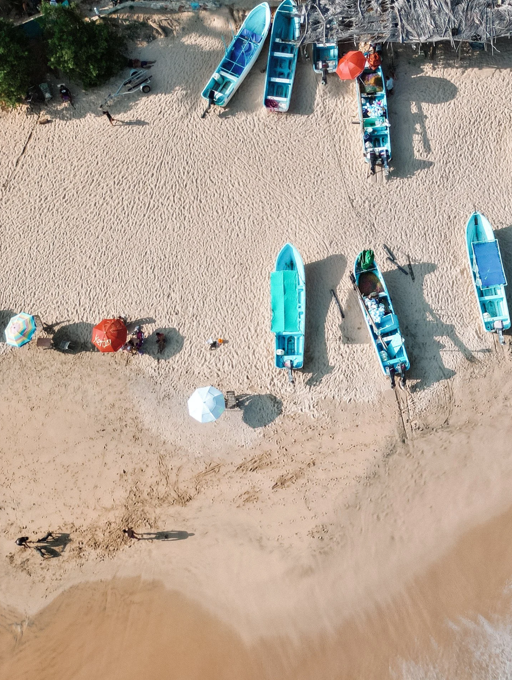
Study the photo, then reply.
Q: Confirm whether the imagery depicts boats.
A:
Yes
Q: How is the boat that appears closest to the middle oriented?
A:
from top to bottom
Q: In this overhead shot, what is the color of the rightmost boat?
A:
blue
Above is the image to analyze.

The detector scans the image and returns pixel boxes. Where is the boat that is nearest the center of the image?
[271,243,305,393]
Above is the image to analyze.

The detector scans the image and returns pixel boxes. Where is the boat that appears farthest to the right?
[468,212,512,354]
